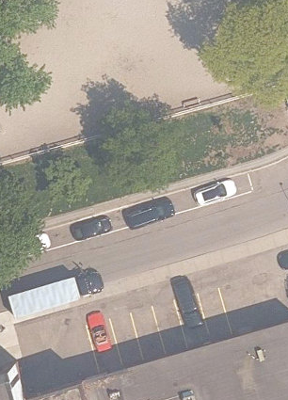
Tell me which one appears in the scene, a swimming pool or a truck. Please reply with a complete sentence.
Of the two, only a truck appears.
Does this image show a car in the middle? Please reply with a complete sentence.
Yes, a car shows up in the middle.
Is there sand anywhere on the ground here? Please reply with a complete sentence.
Yes, there is sand in the image.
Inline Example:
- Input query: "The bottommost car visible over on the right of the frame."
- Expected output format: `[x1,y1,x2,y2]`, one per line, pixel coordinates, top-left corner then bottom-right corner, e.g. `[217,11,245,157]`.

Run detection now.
[172,274,201,328]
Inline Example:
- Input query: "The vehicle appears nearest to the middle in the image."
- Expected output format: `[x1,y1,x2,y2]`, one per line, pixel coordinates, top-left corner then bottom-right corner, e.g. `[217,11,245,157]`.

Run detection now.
[121,198,175,228]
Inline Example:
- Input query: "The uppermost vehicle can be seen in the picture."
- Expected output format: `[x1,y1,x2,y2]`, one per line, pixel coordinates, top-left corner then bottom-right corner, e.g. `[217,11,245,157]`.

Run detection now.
[192,179,238,205]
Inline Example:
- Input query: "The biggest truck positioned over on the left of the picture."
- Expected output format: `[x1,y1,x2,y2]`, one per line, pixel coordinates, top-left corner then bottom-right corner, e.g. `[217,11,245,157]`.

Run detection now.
[8,273,103,321]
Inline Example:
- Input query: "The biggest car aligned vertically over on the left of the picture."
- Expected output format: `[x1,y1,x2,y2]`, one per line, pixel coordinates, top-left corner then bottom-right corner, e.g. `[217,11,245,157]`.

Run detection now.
[86,310,110,353]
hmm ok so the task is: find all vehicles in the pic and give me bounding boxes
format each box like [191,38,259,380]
[121,198,175,228]
[8,273,103,321]
[68,215,113,241]
[172,274,201,328]
[86,310,110,353]
[276,250,288,269]
[192,179,238,205]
